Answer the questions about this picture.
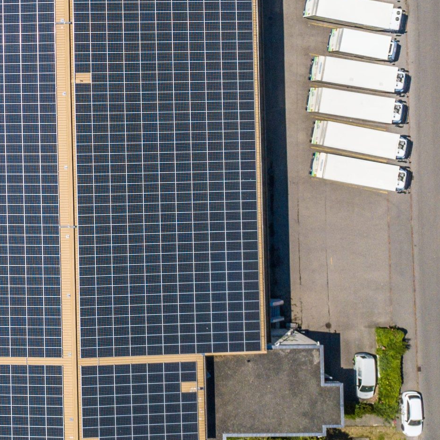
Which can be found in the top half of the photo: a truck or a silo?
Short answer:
truck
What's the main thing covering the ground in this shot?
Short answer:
buildings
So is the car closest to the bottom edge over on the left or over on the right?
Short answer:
right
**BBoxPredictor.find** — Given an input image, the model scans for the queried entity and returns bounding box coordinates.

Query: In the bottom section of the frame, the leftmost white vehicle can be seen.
[350,351,378,395]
